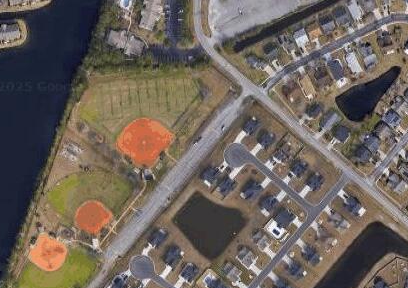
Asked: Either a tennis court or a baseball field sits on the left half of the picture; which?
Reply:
baseball field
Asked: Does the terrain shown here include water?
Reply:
Yes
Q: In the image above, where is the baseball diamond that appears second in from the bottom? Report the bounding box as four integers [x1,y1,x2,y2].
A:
[48,168,134,235]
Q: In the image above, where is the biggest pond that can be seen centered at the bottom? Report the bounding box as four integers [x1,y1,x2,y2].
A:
[173,191,243,261]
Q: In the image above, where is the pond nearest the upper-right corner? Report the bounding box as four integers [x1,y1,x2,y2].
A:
[336,66,400,121]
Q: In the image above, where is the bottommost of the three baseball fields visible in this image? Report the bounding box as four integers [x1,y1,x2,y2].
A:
[18,231,101,288]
